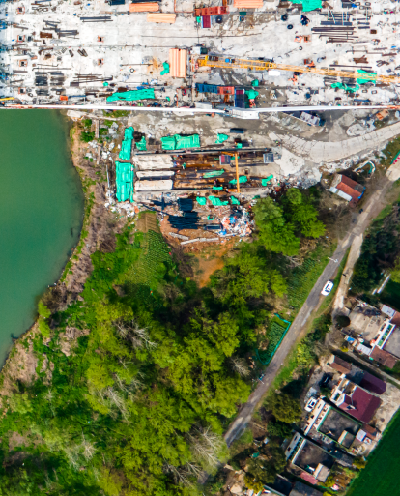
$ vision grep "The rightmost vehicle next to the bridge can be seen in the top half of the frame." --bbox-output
[295,109,322,127]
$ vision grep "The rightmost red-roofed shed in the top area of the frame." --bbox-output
[328,174,364,200]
